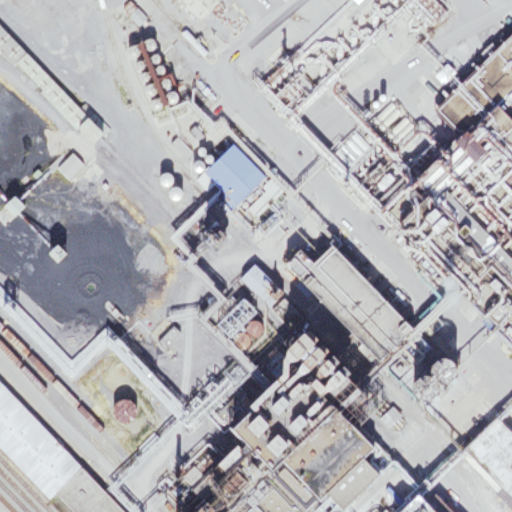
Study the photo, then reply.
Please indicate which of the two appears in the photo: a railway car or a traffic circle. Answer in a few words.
railway car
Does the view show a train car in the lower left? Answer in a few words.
Yes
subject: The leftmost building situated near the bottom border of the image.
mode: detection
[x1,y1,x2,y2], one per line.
[0,387,80,501]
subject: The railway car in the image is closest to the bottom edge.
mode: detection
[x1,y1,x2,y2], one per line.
[77,404,106,432]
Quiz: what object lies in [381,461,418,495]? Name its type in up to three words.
building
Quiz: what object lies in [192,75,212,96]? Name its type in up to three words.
vehicle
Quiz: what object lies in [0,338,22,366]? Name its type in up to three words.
rail car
